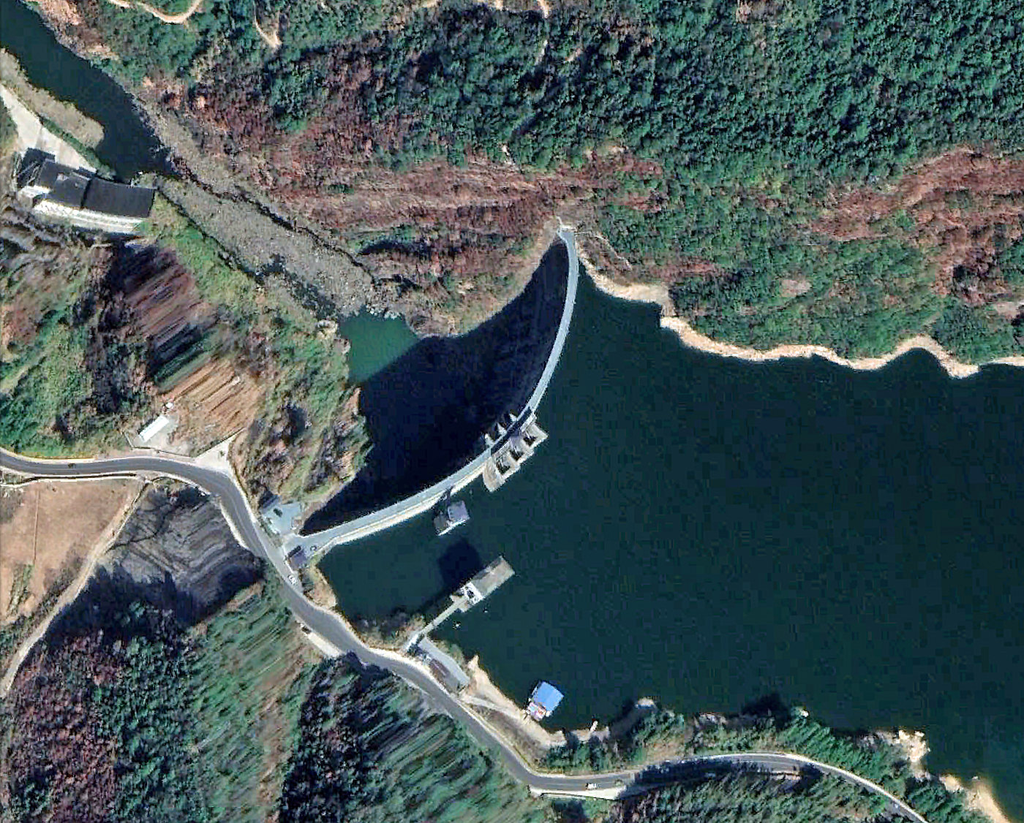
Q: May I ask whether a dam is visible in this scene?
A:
Yes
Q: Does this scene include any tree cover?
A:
Yes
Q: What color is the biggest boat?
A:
blue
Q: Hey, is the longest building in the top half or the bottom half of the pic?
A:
top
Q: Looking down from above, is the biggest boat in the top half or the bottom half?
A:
bottom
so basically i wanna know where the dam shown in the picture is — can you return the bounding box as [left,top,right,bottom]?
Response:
[303,232,579,556]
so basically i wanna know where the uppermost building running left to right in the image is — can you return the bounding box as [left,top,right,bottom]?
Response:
[19,159,157,223]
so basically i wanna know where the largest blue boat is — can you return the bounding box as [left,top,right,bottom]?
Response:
[527,681,565,721]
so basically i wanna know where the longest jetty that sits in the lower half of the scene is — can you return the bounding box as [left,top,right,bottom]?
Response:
[417,556,515,636]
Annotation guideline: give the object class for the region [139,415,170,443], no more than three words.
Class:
shed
